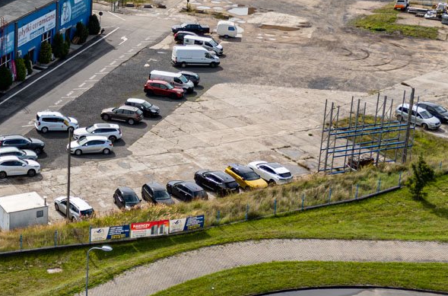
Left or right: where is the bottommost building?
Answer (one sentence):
It is on the left.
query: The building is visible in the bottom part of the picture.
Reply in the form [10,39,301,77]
[0,180,49,228]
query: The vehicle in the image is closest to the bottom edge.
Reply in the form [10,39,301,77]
[52,195,97,228]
